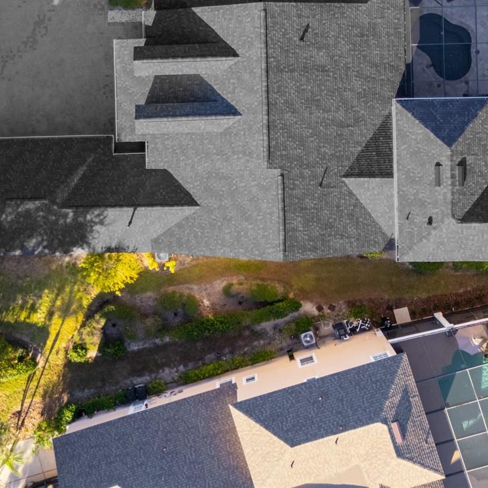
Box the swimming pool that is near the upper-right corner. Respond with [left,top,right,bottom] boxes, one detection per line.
[412,9,477,85]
